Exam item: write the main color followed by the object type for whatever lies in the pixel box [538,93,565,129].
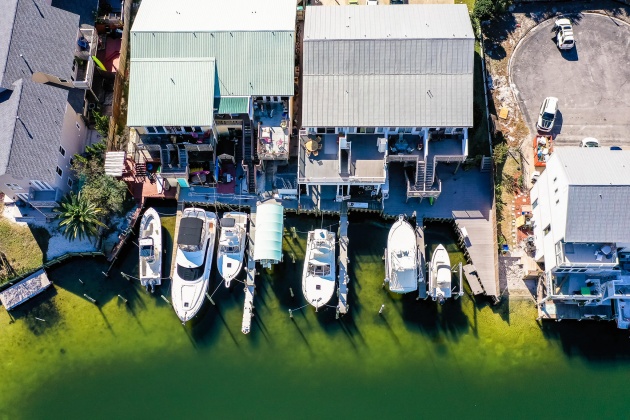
white car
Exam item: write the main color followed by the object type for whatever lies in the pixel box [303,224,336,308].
white boat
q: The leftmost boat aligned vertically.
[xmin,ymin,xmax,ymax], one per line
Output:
[140,212,164,291]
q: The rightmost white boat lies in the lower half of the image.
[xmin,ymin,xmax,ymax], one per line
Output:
[431,248,451,299]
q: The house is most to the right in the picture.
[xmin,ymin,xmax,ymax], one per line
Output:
[527,149,630,337]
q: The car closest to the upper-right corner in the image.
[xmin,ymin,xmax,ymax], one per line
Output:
[552,14,578,47]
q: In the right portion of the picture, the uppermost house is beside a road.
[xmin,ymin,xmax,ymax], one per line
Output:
[303,5,474,197]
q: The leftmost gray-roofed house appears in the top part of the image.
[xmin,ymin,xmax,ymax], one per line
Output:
[0,0,113,231]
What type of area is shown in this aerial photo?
residential area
